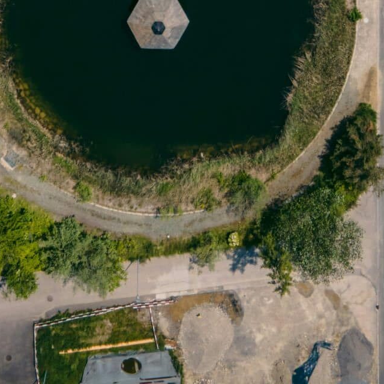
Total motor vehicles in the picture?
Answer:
0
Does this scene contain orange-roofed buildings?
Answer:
No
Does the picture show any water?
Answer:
Yes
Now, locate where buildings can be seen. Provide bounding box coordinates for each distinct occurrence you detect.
[82,340,190,384]
[127,0,190,49]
